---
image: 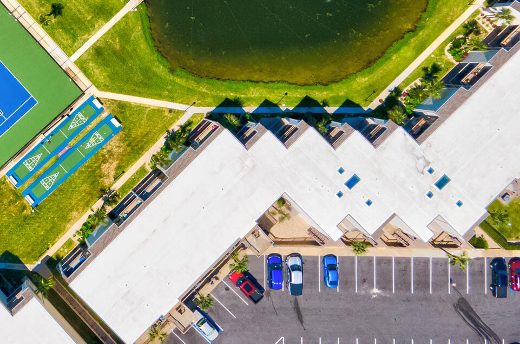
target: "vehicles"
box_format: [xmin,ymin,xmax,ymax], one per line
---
[508,256,520,286]
[194,311,219,340]
[324,253,340,284]
[286,252,304,293]
[233,271,266,304]
[490,255,509,294]
[268,254,285,287]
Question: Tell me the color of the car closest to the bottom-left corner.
white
